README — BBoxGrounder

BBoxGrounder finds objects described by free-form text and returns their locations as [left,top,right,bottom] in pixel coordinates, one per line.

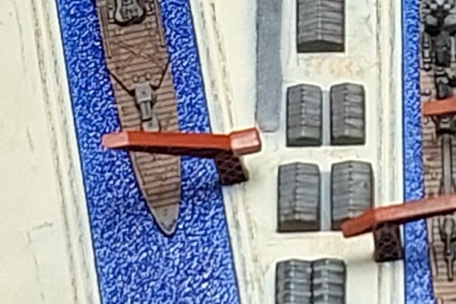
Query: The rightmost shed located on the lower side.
[331,162,373,229]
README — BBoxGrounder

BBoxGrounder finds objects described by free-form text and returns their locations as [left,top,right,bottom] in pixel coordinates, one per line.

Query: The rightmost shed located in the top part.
[330,83,365,144]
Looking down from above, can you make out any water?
Yes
